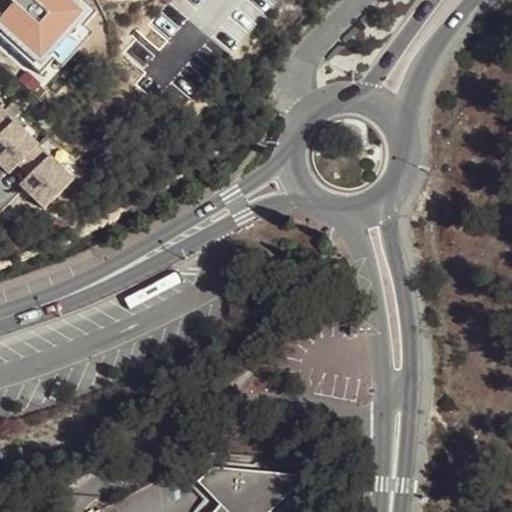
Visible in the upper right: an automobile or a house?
automobile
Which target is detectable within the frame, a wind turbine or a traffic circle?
traffic circle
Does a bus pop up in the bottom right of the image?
No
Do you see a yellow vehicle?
No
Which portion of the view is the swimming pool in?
top left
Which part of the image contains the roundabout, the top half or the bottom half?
top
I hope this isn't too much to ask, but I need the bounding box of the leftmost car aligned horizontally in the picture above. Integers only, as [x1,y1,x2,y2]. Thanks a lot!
[16,310,42,324]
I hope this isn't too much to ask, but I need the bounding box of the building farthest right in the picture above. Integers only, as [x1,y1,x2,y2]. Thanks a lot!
[200,468,291,512]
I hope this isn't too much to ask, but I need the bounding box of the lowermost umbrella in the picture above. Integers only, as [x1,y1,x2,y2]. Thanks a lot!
[55,149,68,162]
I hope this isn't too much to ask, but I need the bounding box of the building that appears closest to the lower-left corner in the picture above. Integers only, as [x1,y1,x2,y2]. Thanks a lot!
[70,474,102,512]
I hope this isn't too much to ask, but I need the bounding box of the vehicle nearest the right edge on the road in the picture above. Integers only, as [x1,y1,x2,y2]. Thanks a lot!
[446,9,464,28]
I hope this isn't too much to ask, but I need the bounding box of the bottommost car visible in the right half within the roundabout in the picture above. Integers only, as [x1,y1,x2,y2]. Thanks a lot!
[338,84,362,101]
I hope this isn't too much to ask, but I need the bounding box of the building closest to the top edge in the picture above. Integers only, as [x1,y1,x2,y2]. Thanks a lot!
[0,0,92,62]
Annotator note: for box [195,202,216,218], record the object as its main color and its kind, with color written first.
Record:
white car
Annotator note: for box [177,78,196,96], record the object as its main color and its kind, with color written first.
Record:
white car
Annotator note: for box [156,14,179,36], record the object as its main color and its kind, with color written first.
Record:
white vehicle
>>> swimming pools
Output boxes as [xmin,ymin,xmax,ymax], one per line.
[55,36,78,60]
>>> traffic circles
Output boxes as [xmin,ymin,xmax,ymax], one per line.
[256,80,422,259]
